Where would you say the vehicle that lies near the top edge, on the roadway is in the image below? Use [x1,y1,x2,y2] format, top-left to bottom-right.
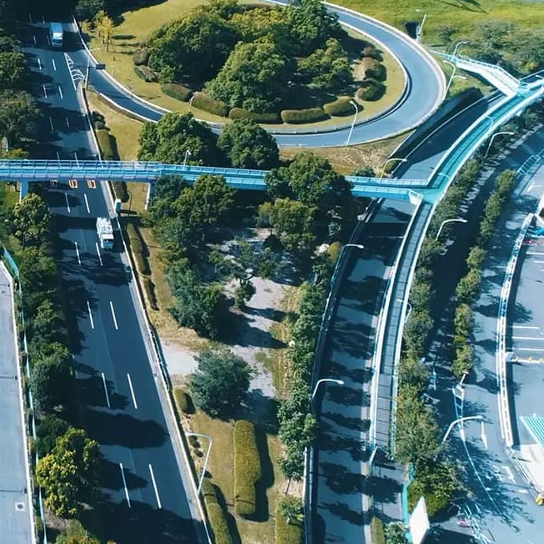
[49,21,63,46]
